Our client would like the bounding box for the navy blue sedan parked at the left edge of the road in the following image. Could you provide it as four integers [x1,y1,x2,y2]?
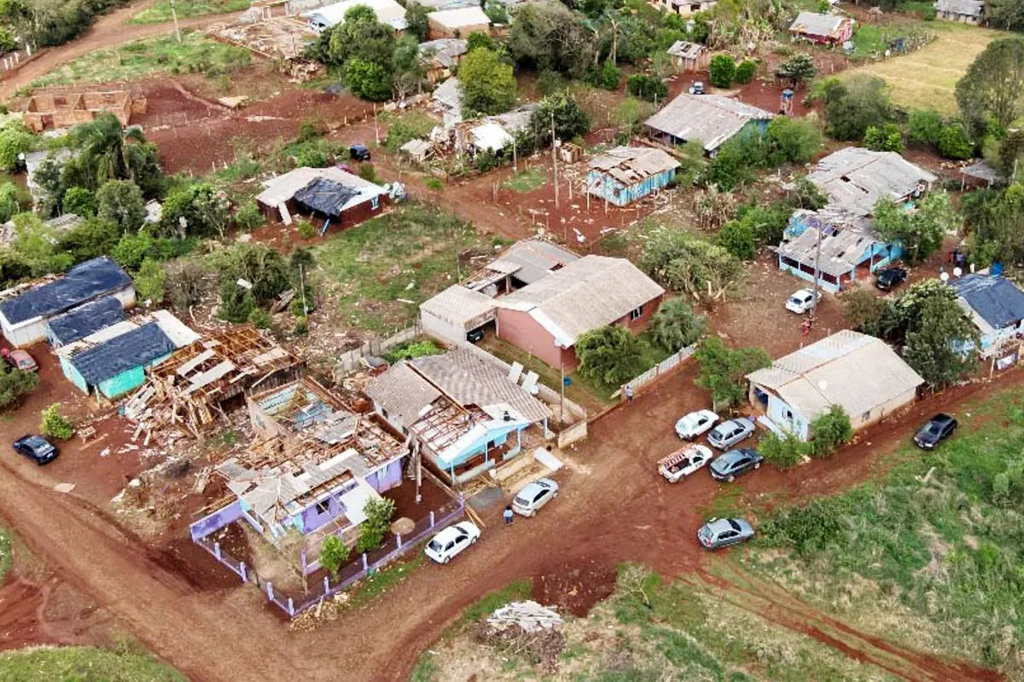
[6,430,64,464]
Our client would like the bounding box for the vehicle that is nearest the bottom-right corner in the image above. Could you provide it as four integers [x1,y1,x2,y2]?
[911,410,964,450]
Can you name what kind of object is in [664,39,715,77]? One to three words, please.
shed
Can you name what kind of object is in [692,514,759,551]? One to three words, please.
car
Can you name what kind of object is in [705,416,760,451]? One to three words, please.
car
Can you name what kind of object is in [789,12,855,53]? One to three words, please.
house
